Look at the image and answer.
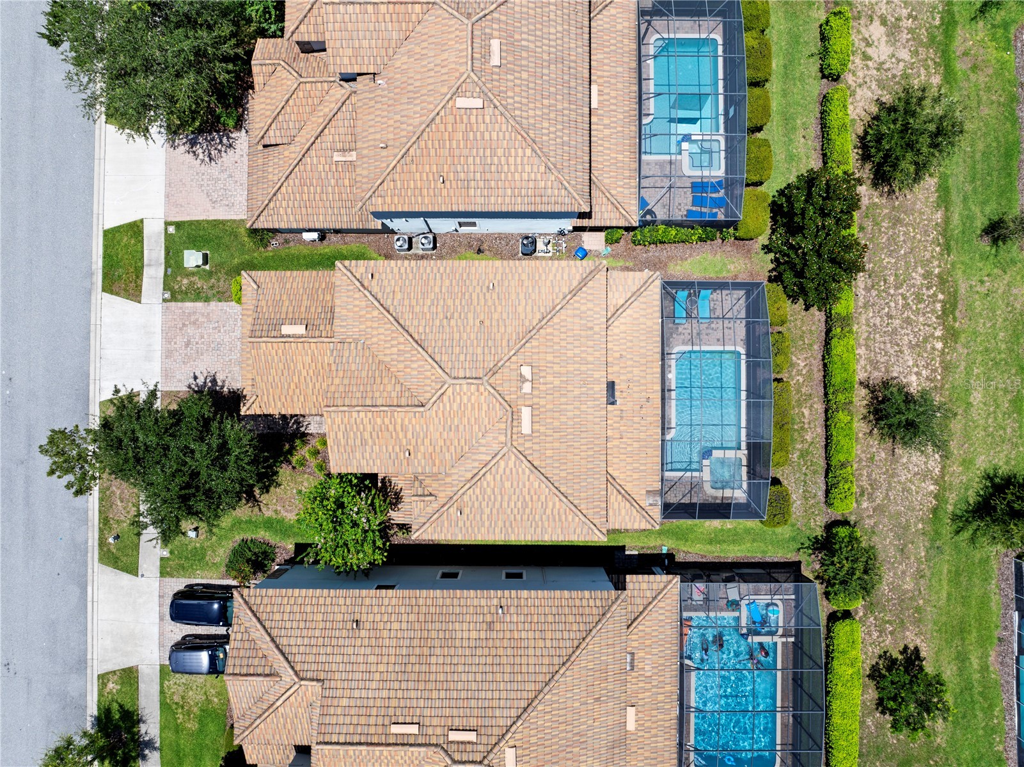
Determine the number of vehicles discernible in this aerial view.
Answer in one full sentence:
Looking from above, you can make out 2 vehicles.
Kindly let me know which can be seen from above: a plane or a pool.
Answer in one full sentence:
Of the two, only a pool appears.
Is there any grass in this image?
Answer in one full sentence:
Yes, the picture does contain grass.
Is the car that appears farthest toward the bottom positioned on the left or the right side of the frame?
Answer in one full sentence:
The car that appears farthest toward the bottom appears in the left half of the scene.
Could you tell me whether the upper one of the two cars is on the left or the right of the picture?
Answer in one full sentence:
The upper one of the two cars sits on the left side.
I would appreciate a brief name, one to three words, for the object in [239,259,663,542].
house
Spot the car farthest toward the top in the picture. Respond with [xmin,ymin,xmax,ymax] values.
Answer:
[167,585,260,629]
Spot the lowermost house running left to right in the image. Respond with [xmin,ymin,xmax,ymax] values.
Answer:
[218,564,682,767]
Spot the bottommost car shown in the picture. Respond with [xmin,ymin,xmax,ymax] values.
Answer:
[167,632,227,674]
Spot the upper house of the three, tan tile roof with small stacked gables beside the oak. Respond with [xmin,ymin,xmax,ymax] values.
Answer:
[246,0,641,234]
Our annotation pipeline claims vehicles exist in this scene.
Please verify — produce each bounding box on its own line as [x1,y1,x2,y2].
[167,632,227,674]
[167,585,260,629]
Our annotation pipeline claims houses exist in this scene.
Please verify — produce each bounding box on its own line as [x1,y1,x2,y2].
[246,0,641,234]
[239,259,663,542]
[218,564,682,767]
